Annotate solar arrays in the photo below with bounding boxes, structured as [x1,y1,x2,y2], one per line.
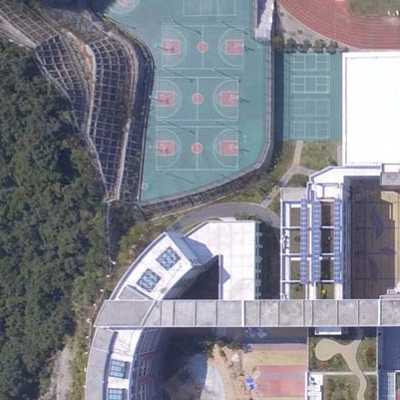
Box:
[335,199,340,283]
[301,199,308,284]
[312,201,320,282]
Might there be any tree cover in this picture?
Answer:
Yes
